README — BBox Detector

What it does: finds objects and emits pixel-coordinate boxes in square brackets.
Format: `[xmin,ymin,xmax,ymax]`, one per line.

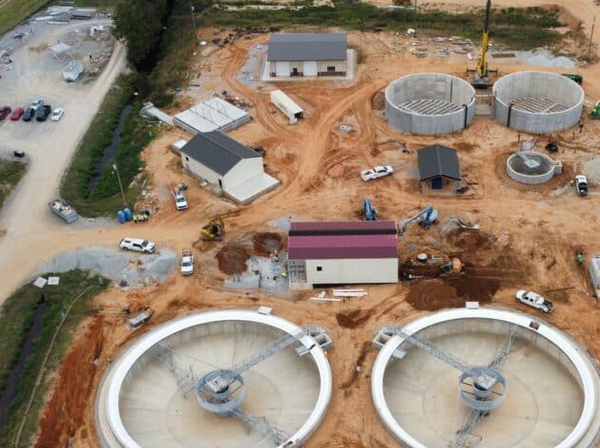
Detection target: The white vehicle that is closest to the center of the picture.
[360,164,395,180]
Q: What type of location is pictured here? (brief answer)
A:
industrial area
